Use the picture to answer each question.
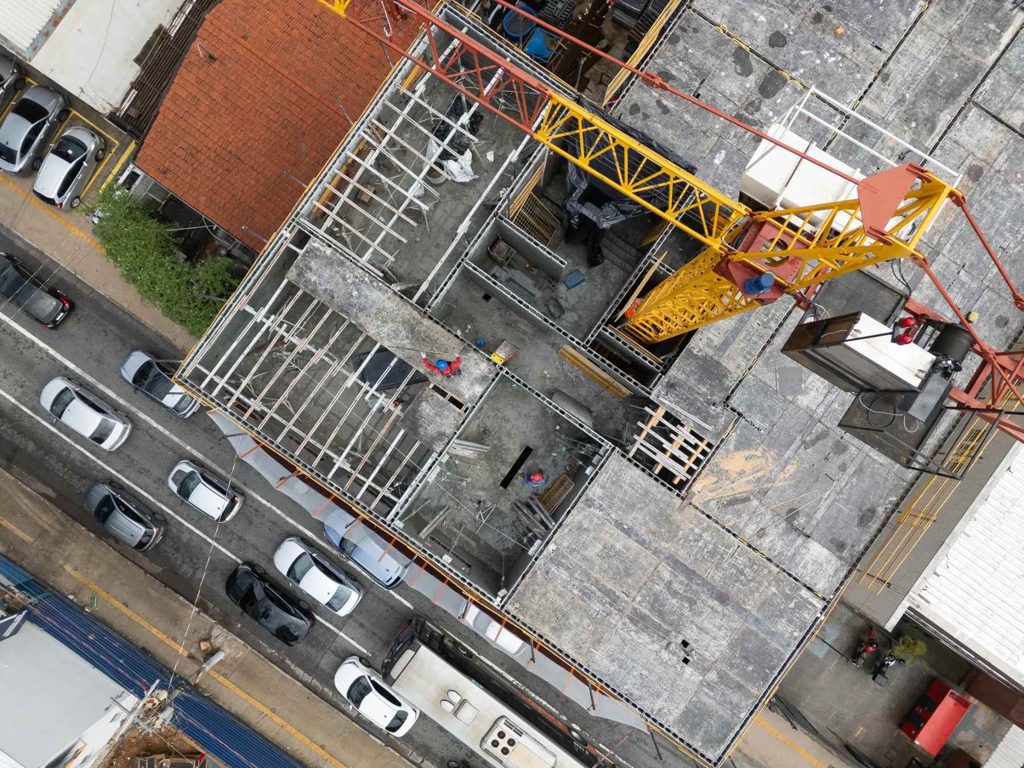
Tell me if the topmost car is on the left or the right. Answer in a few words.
left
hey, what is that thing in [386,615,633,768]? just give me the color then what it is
white bus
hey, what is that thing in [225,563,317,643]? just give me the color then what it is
black car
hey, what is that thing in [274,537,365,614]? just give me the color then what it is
white car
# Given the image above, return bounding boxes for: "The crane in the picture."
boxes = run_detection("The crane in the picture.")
[310,0,1024,481]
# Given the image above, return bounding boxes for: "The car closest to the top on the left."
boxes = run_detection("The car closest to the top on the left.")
[0,47,41,130]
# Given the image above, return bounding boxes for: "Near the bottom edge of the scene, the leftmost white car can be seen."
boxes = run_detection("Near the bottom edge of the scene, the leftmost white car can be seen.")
[334,656,420,734]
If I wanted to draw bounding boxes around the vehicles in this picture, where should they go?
[274,537,365,614]
[168,457,247,524]
[84,479,172,553]
[452,612,523,666]
[0,86,78,177]
[0,248,79,329]
[852,628,882,669]
[0,47,41,130]
[119,349,209,423]
[29,128,110,209]
[386,615,633,768]
[334,656,420,734]
[320,519,403,587]
[225,563,317,643]
[872,647,904,694]
[43,376,136,451]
